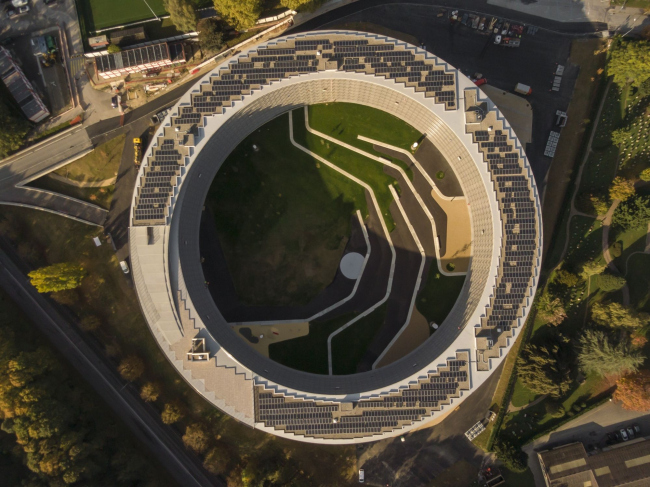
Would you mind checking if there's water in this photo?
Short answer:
No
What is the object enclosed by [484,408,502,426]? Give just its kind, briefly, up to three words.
vehicle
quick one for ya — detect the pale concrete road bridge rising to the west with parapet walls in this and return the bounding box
[0,124,95,193]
